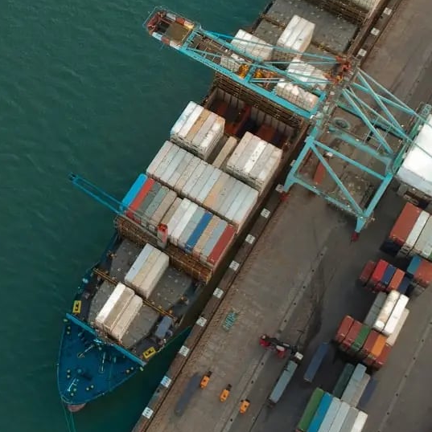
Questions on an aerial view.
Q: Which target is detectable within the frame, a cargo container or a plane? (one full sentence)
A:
This aerial view contains a cargo container.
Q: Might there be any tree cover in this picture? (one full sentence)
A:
No, the picture contains no tree cover.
